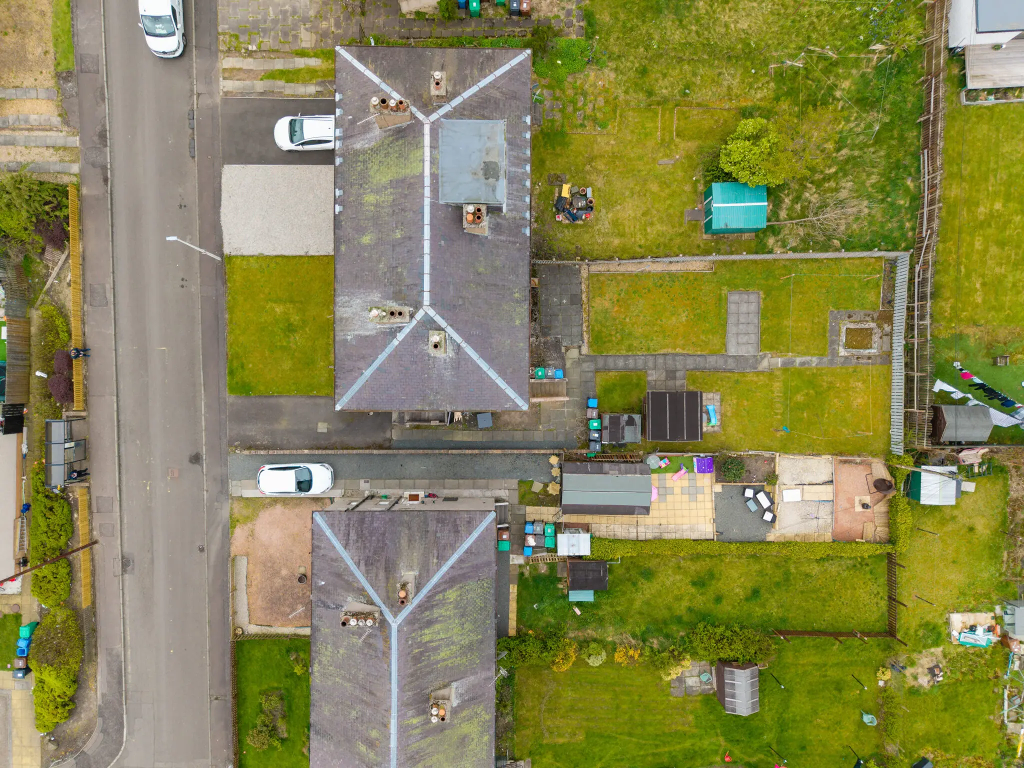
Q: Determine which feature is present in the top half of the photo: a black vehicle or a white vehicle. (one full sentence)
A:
You can see a white vehicle in the top half of the photo.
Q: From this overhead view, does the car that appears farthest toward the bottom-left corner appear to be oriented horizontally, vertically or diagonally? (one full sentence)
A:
What the image shows is the car that appears farthest toward the bottom-left corner lying horizontally.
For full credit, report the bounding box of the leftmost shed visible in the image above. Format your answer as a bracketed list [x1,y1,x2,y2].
[0,403,35,433]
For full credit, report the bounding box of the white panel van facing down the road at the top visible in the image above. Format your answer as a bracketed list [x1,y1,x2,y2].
[143,0,188,62]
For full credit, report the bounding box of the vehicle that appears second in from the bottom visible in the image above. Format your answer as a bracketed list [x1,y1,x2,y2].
[272,116,333,155]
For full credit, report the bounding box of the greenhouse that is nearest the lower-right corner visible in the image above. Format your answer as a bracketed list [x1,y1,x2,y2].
[993,598,1024,634]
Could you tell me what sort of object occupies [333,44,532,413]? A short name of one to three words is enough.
house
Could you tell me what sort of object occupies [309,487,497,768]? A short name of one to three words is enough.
house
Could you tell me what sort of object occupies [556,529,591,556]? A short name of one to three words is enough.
shed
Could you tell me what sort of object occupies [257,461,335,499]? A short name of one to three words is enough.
car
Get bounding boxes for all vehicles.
[143,0,188,62]
[257,461,335,499]
[272,116,333,155]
